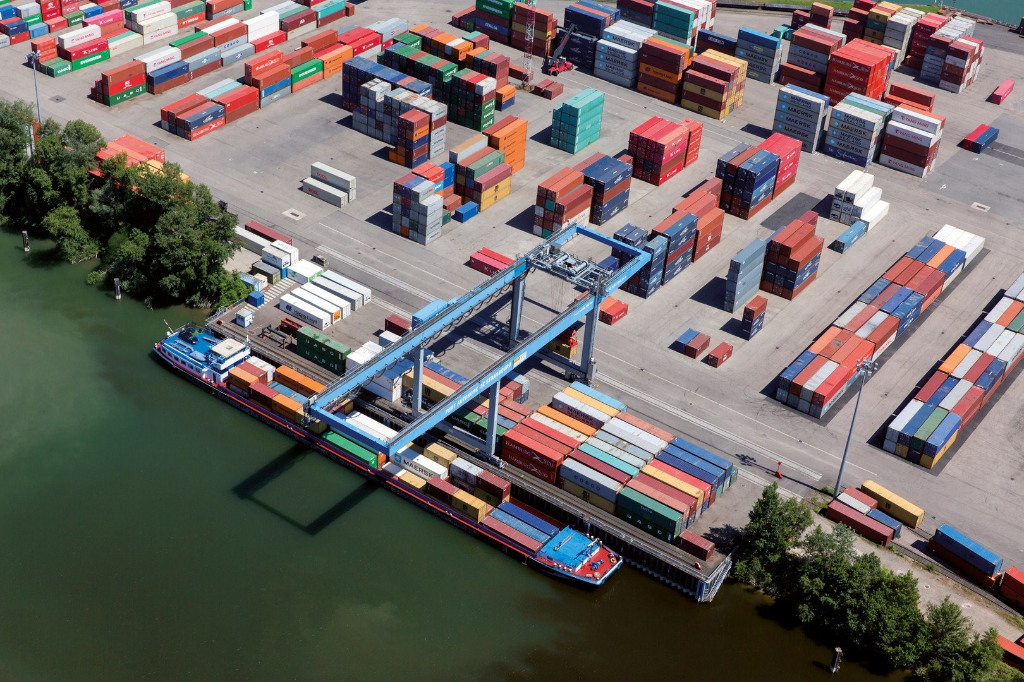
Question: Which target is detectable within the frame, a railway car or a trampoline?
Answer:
railway car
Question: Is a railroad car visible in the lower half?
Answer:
Yes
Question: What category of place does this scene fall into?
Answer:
port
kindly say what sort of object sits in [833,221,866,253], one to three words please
shipping container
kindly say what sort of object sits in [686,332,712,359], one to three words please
shipping container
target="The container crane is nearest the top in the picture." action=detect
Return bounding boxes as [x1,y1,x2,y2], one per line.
[292,218,657,465]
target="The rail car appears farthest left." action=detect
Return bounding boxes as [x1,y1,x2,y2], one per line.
[922,546,999,590]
